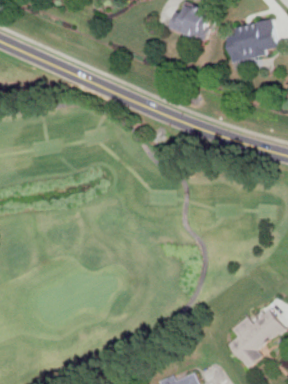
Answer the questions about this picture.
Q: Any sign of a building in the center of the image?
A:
No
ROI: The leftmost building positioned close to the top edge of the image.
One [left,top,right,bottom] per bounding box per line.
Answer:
[168,0,212,40]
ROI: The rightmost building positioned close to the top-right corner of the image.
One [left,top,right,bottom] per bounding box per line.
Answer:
[226,19,278,64]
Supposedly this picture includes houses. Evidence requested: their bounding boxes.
[226,19,278,64]
[158,374,200,384]
[228,309,286,370]
[168,0,212,40]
